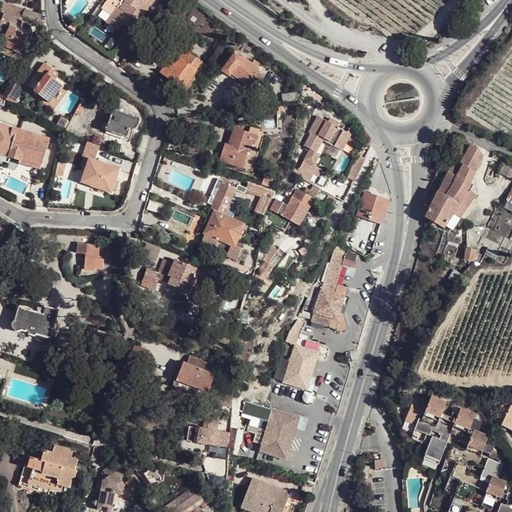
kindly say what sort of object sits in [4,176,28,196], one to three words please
swimming pool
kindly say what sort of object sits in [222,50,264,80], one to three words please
house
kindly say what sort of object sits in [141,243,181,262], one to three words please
shed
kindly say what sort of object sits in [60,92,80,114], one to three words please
swimming pool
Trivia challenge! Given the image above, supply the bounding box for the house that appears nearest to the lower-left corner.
[26,444,77,492]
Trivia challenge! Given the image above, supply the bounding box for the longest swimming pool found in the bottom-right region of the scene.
[407,478,422,508]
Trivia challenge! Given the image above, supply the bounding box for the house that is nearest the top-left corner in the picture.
[2,2,42,48]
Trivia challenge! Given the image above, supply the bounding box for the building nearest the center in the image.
[258,244,282,280]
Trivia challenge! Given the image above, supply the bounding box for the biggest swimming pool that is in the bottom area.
[6,378,47,406]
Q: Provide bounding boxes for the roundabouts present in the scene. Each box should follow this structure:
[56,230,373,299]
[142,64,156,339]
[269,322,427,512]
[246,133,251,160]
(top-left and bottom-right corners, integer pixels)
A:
[363,62,442,140]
